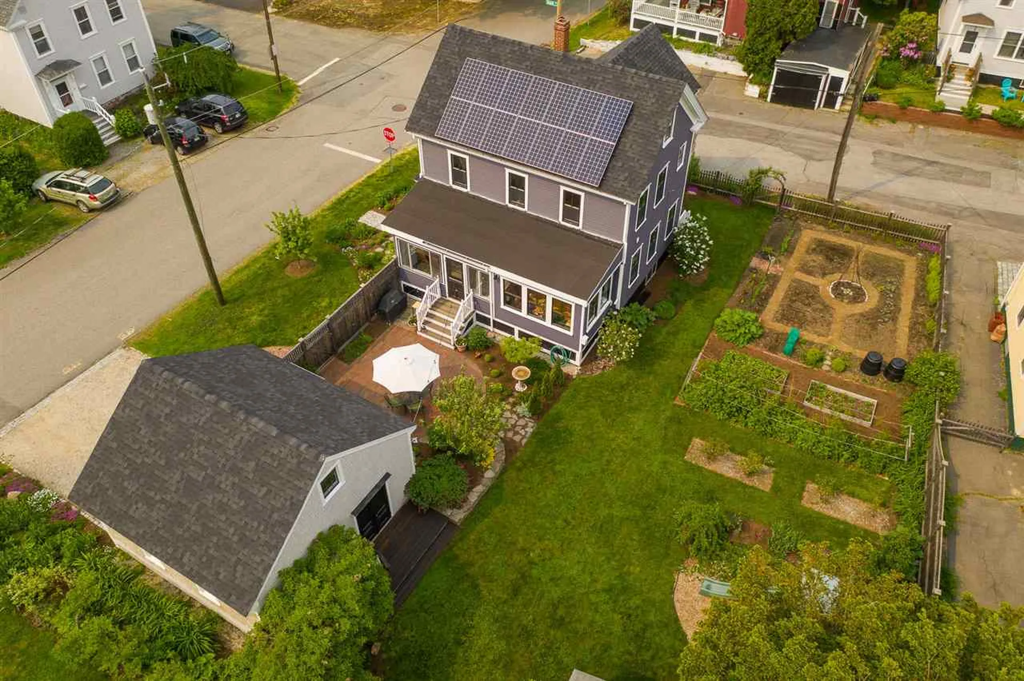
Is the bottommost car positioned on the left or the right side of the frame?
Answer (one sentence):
The bottommost car appears in the left half of the scene.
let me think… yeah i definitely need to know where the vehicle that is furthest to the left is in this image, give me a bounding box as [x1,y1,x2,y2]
[22,161,122,213]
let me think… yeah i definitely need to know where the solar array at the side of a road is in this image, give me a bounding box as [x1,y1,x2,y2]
[435,55,633,184]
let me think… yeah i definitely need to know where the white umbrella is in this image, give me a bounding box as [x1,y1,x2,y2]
[367,343,446,399]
